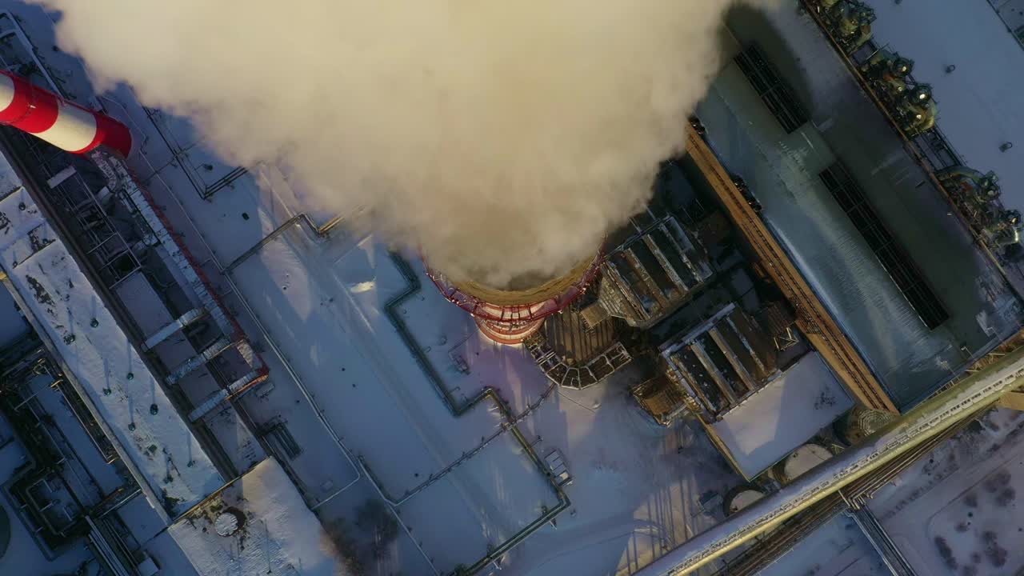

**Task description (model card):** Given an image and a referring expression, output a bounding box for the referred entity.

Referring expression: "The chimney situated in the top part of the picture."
[0,61,134,160]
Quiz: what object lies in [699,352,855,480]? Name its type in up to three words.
building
